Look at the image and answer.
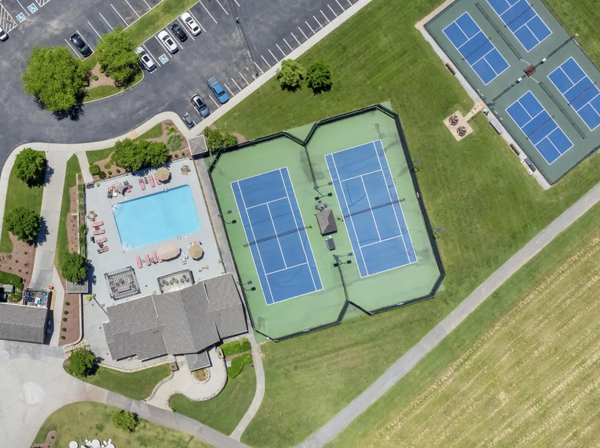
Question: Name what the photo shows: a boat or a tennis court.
tennis court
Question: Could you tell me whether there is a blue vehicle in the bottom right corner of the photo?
No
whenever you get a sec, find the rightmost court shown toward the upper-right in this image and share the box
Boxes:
[548,57,600,131]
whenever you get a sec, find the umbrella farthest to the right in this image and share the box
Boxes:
[190,245,203,259]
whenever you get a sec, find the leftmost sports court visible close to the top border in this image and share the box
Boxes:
[443,12,510,85]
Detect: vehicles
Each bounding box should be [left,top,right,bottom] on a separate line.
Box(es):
[0,24,9,42]
[205,75,230,105]
[182,115,194,129]
[70,32,91,58]
[190,93,212,118]
[137,47,157,73]
[157,29,179,55]
[180,12,202,37]
[171,22,188,44]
